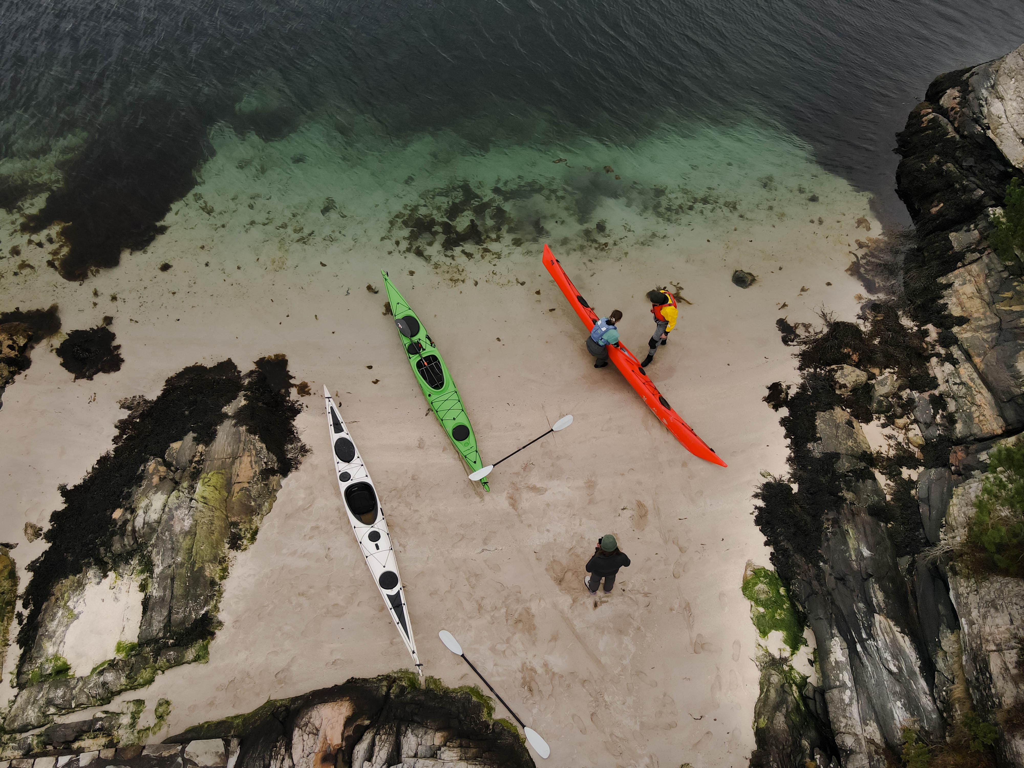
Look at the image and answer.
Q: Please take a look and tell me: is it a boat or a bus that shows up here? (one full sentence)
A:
Of the two, only a boat appears.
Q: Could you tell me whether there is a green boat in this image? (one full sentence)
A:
Yes, the picture does show a green boat.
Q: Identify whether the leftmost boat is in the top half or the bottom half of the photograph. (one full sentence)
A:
The leftmost boat is in the bottom half of the image.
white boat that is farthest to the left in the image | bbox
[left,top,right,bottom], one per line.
[325,387,421,673]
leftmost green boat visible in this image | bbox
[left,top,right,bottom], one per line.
[382,273,487,490]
